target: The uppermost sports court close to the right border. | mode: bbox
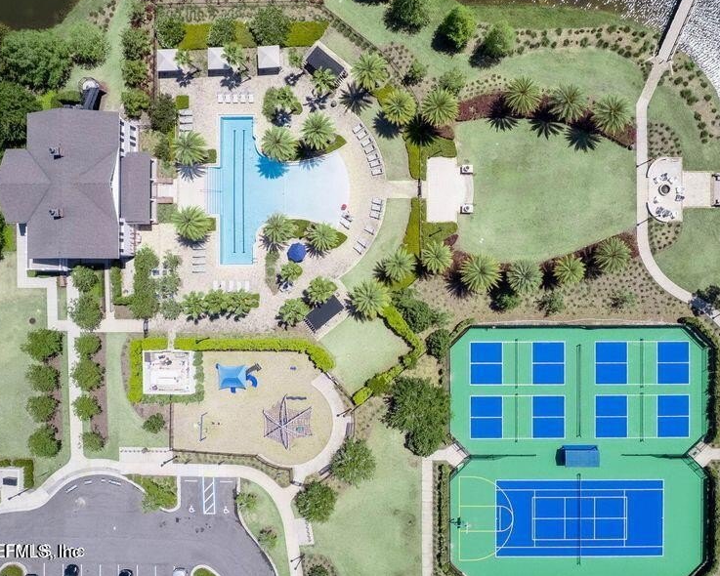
[595,337,690,388]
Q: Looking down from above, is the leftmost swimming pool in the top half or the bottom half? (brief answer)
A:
top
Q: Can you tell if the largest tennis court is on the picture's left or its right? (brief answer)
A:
right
